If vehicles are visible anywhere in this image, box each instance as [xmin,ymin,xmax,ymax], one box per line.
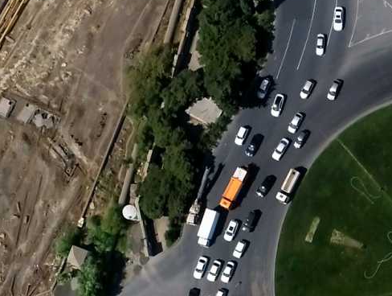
[197,206,222,249]
[234,239,247,259]
[246,132,265,158]
[294,129,310,150]
[218,165,251,210]
[215,289,227,296]
[225,219,239,242]
[300,79,314,99]
[333,7,345,31]
[274,166,303,205]
[234,125,250,146]
[194,256,208,278]
[185,164,214,228]
[221,261,235,284]
[273,137,290,162]
[272,93,286,117]
[208,259,222,282]
[315,34,326,57]
[257,173,278,197]
[288,111,305,134]
[327,79,341,101]
[242,210,260,232]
